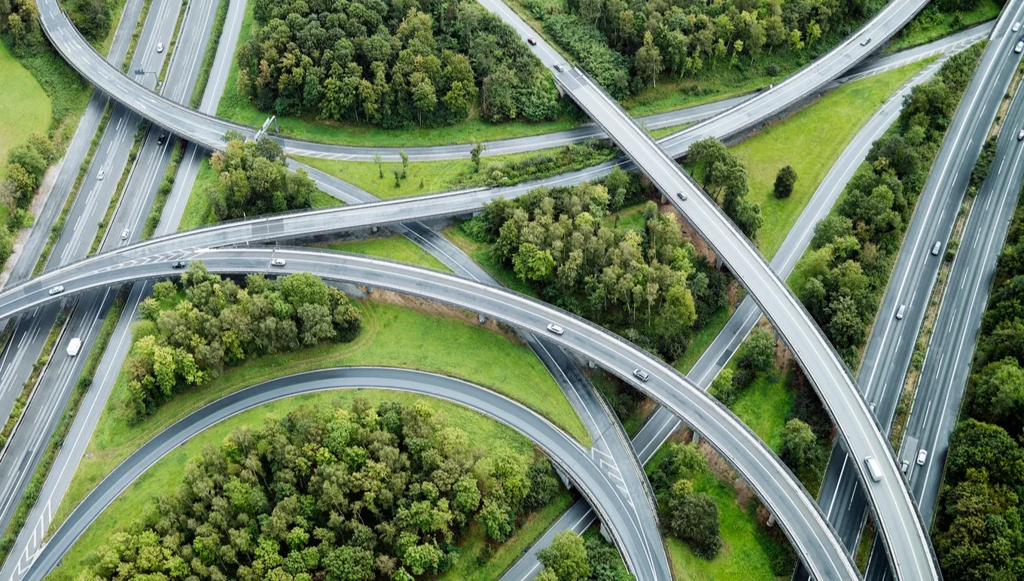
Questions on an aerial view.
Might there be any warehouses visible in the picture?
No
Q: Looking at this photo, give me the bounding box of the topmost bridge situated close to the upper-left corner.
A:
[37,0,264,156]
